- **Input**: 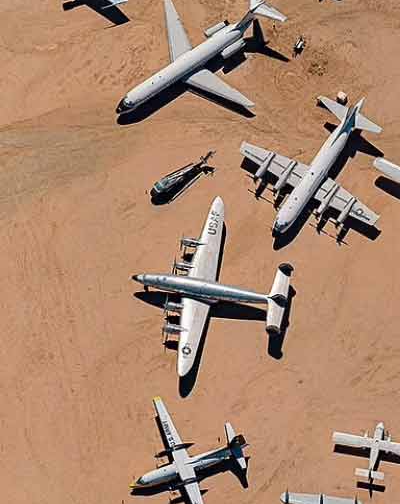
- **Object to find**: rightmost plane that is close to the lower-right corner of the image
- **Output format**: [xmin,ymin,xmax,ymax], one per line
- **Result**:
[332,424,400,479]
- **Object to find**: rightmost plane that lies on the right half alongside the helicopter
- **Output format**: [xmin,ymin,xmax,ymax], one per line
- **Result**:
[238,95,382,231]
